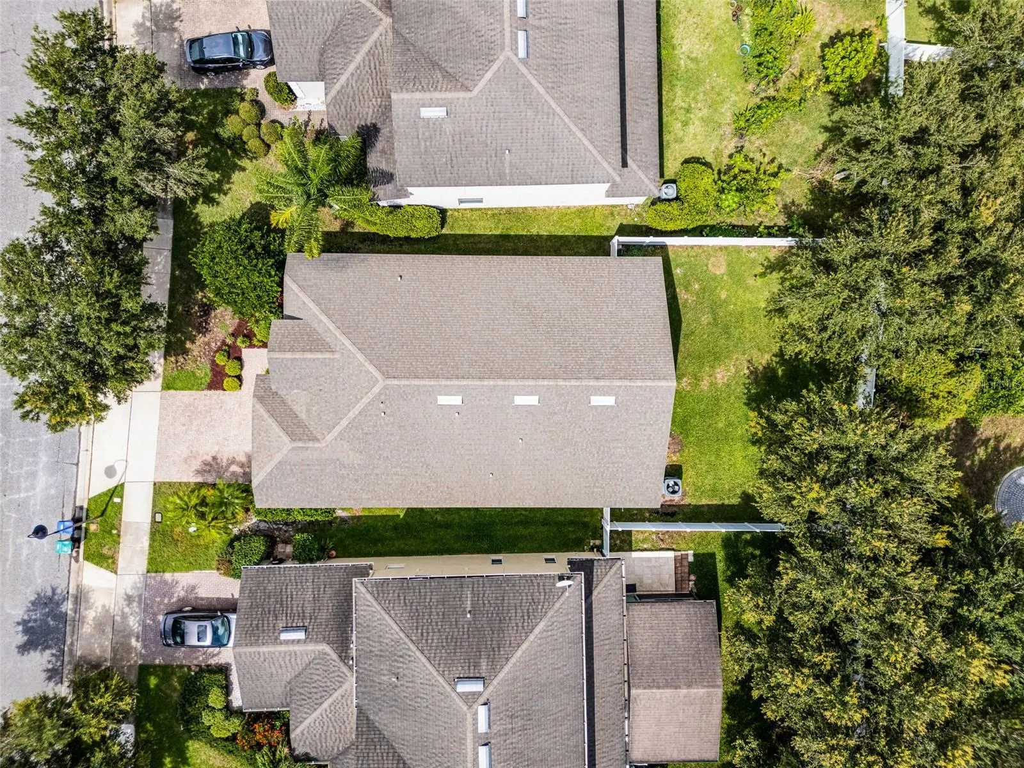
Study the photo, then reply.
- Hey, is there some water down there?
No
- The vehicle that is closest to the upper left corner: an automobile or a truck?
automobile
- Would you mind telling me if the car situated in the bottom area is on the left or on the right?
left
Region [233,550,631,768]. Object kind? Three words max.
house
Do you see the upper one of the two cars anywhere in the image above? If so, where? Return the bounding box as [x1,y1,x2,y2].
[184,25,276,77]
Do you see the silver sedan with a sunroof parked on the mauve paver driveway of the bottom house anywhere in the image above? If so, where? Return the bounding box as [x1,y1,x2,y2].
[161,608,238,652]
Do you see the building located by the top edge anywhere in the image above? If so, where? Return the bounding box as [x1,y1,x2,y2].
[267,0,660,207]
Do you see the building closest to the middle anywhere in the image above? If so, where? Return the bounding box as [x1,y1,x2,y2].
[251,254,676,508]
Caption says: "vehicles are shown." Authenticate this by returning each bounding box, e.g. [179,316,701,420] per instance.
[184,25,276,77]
[161,608,238,652]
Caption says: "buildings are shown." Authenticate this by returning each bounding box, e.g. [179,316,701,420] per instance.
[251,254,676,508]
[233,550,631,768]
[267,0,660,207]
